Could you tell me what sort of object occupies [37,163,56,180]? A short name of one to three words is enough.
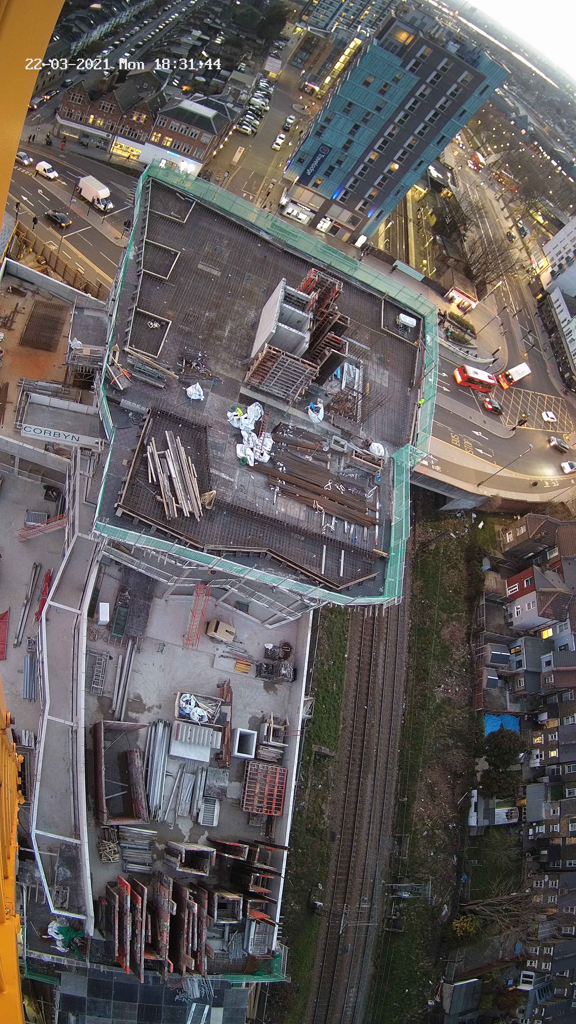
vehicle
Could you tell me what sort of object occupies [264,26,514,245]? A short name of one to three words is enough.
building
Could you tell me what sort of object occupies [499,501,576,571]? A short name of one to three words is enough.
house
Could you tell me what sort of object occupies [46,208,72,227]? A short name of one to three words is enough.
car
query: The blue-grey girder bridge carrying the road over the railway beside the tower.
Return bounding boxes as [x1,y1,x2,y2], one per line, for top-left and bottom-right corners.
[414,469,576,514]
